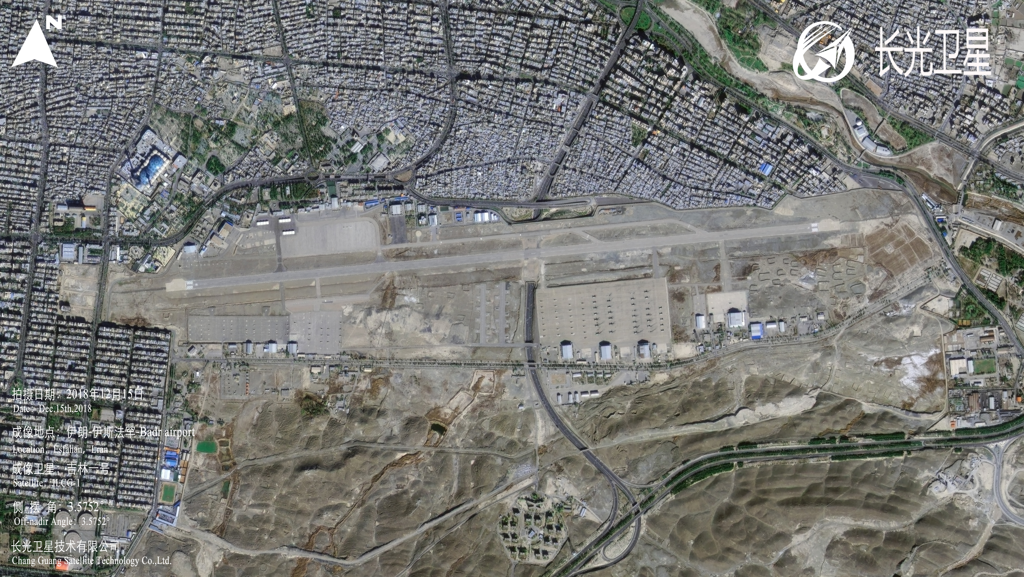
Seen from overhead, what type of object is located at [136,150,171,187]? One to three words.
building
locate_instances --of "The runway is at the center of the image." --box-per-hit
[185,223,819,290]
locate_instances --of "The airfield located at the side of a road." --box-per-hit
[166,206,840,364]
